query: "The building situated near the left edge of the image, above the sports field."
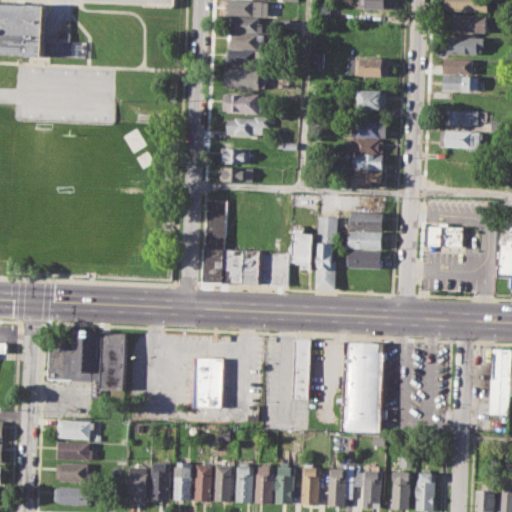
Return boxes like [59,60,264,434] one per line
[0,4,42,58]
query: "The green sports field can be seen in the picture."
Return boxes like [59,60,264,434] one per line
[0,122,170,280]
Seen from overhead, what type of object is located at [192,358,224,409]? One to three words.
building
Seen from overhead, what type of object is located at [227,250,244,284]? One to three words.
building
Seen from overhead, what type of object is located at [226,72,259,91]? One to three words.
house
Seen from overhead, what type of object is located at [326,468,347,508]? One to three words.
house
